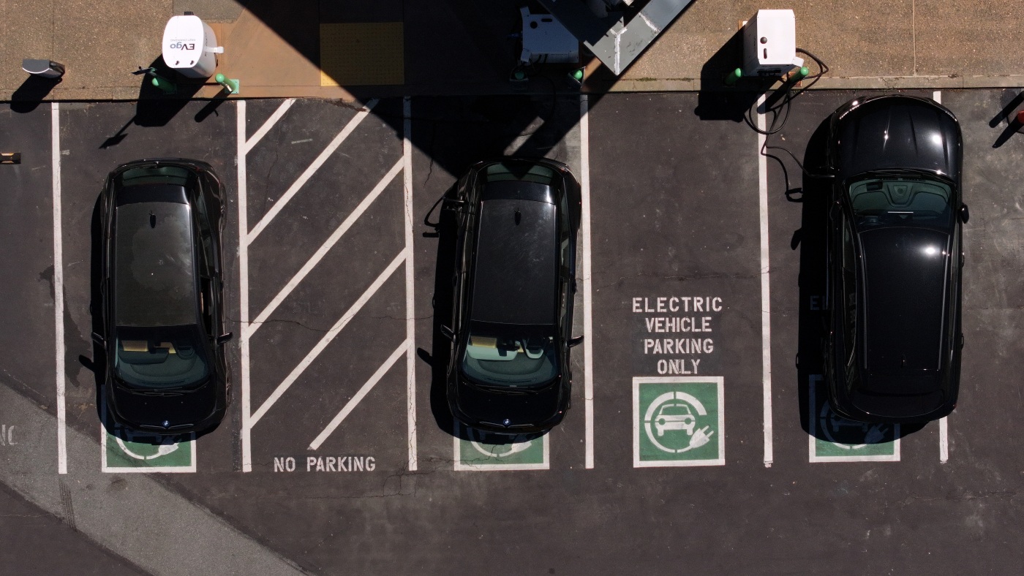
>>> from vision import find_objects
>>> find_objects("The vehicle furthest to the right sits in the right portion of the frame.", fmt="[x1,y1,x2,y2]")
[817,96,970,426]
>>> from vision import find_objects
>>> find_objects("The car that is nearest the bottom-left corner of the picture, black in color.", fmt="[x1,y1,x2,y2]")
[92,160,235,435]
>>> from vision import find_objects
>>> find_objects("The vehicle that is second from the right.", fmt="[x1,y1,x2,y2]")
[440,158,583,434]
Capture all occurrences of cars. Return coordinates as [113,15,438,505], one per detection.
[440,158,583,434]
[817,96,970,426]
[92,160,235,435]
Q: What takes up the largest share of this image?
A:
paved ground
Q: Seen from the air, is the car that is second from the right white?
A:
No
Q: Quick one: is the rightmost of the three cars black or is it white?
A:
black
